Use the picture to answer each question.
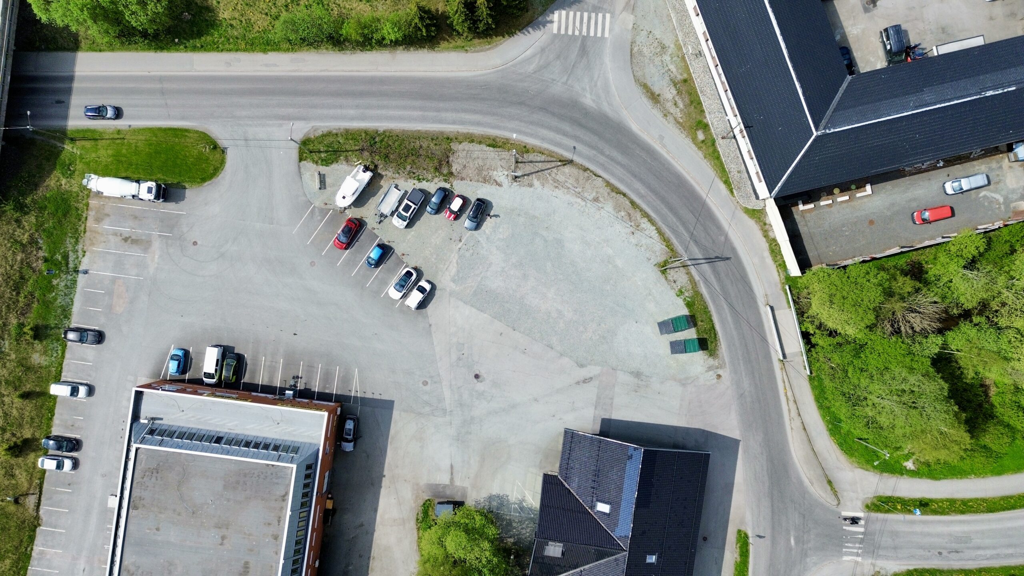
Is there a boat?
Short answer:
Yes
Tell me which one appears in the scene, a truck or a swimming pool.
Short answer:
truck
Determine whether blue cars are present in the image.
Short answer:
Yes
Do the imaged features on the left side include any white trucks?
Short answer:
Yes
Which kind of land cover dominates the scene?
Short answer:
paved ground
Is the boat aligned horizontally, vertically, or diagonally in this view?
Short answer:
diagonally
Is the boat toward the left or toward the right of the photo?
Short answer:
left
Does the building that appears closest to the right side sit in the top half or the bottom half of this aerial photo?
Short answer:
top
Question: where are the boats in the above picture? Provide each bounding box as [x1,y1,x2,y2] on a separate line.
[333,158,372,208]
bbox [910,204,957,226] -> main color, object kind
red vehicle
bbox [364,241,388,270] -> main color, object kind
blue car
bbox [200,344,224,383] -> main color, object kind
white vehicle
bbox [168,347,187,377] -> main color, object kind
blue car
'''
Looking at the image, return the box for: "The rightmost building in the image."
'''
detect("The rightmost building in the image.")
[684,0,1024,201]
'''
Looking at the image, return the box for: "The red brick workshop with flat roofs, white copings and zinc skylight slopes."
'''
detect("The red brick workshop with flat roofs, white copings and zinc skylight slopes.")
[106,380,358,576]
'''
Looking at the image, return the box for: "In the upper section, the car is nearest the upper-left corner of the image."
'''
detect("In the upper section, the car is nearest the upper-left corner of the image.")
[83,103,120,121]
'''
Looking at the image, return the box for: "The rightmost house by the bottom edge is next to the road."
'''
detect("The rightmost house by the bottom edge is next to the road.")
[528,422,712,576]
